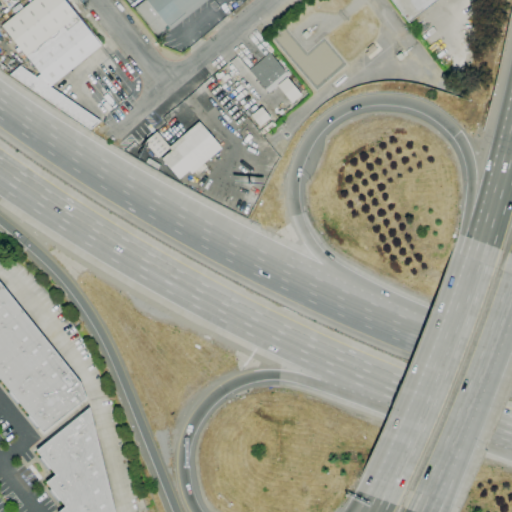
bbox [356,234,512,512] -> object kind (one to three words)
bridge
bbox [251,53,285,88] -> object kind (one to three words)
building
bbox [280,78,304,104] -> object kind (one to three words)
shed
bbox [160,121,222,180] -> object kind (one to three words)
building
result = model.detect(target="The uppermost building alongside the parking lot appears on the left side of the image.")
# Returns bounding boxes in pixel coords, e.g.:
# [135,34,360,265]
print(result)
[0,279,89,434]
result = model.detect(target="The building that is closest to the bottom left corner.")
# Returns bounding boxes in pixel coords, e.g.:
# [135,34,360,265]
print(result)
[38,406,117,512]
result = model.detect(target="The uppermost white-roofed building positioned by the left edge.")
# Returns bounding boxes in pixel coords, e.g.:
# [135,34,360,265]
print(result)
[2,0,103,86]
